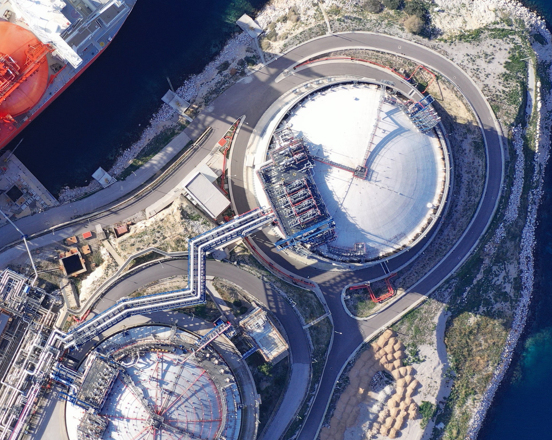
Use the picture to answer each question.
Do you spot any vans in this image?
No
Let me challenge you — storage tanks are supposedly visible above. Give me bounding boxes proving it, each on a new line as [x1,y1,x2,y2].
[253,77,451,265]
[61,319,246,440]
